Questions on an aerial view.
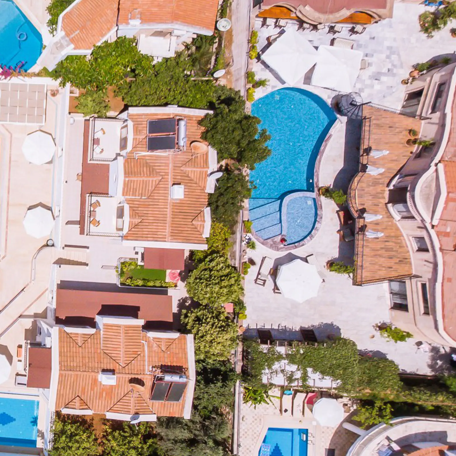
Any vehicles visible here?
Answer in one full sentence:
No, there isn't any vehicle down there.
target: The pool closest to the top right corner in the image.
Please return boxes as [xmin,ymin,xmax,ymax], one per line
[249,87,336,243]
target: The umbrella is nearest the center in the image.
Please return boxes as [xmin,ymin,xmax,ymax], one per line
[275,258,320,303]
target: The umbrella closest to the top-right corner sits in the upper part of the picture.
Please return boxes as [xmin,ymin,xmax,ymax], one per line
[314,39,364,88]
